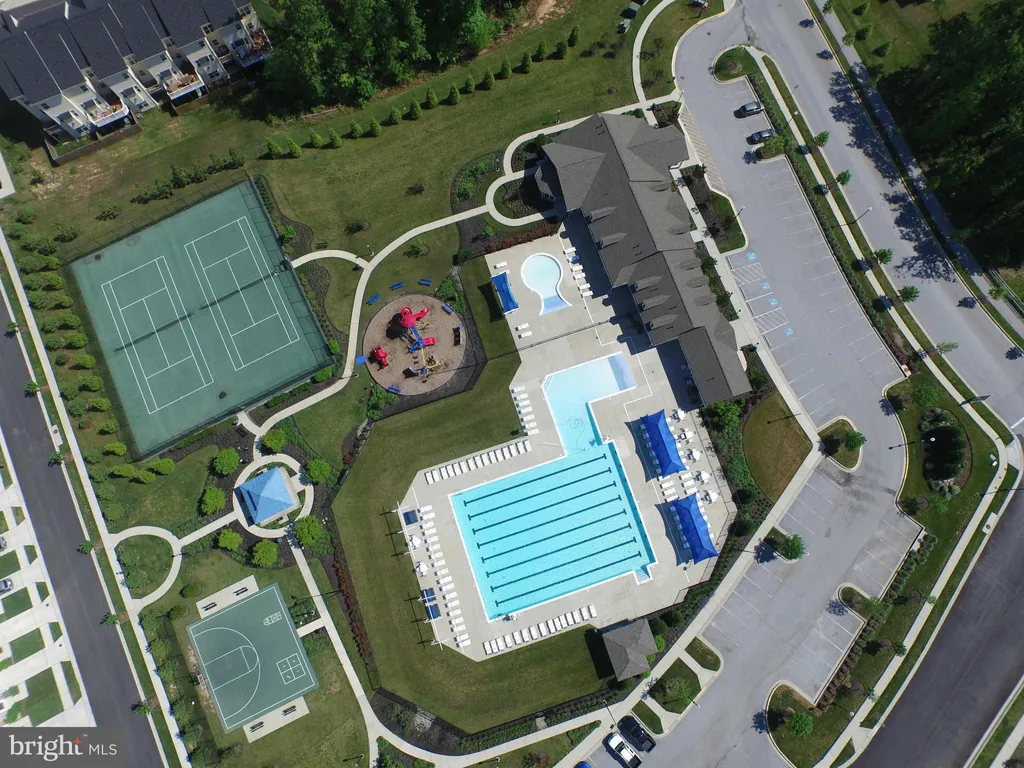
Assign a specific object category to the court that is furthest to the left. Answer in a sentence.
The court that is furthest to the left in the image is a tennis court.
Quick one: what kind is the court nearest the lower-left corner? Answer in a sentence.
From above, the court nearest the lower-left corner can be identified as a basketball court.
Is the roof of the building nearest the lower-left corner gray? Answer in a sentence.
No, the roof of the building nearest the lower-left corner is blue.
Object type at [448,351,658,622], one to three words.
swimming pool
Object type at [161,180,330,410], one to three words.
tennis court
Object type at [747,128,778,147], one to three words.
car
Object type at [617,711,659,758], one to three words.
truck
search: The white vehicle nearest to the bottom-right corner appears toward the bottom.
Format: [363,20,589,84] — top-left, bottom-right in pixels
[602,728,642,768]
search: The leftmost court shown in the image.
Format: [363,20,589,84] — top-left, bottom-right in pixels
[71,221,238,456]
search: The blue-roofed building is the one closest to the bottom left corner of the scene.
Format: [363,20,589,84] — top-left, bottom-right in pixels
[238,466,301,527]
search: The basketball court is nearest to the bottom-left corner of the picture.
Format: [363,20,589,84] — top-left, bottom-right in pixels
[186,583,319,735]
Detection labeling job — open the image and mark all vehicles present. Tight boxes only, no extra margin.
[602,728,642,768]
[747,128,778,147]
[733,99,765,119]
[0,576,17,594]
[0,535,14,552]
[617,711,659,758]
